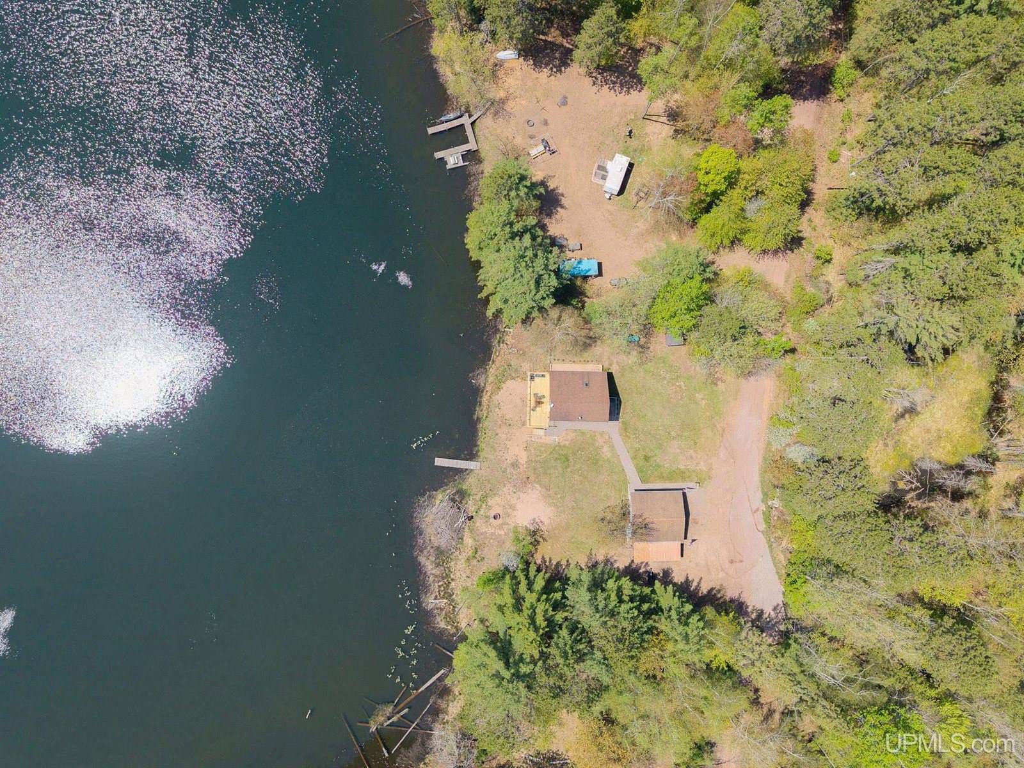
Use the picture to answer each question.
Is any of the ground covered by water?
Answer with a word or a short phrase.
Yes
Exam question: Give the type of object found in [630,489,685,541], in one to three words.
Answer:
building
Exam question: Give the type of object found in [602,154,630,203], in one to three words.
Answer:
vehicle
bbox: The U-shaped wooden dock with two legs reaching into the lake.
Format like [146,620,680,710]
[427,113,477,160]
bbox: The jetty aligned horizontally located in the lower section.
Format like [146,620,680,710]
[435,457,480,469]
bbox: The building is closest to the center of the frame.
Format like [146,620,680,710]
[529,365,618,435]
